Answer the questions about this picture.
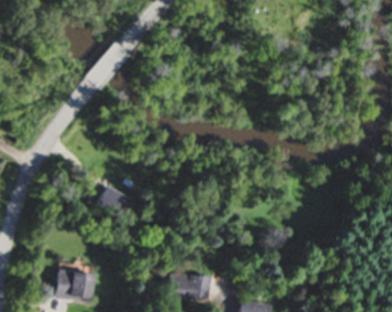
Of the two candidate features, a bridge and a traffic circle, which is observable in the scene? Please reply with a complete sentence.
This aerial view contains a bridge.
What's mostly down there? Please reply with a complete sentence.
The scene is dominated by trees.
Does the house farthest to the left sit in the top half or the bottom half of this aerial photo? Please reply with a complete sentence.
You can find the house farthest to the left in the bottom half.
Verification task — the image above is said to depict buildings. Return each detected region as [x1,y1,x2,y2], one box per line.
[98,185,126,211]
[240,302,272,312]
[58,270,96,301]
[170,274,213,301]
